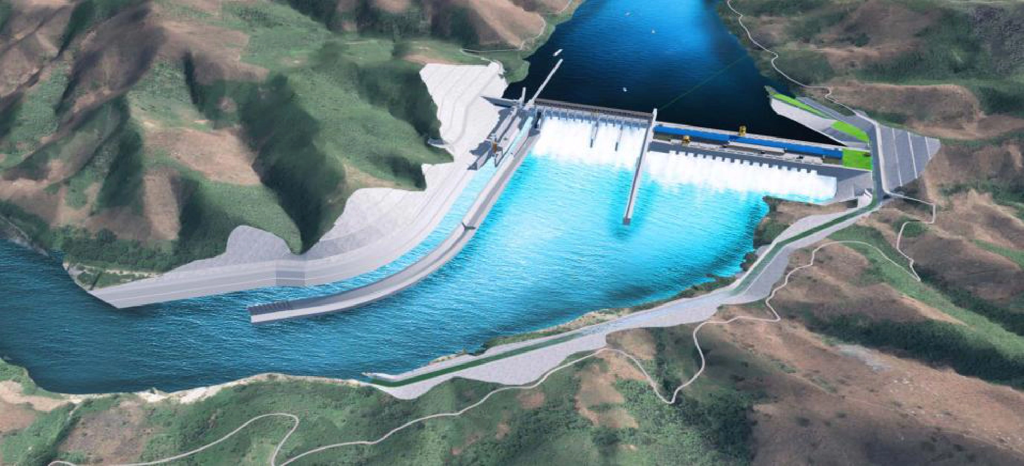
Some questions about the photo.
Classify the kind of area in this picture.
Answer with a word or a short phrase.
port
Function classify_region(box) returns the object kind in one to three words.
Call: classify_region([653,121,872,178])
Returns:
building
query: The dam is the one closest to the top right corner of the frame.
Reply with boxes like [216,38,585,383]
[532,99,654,138]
